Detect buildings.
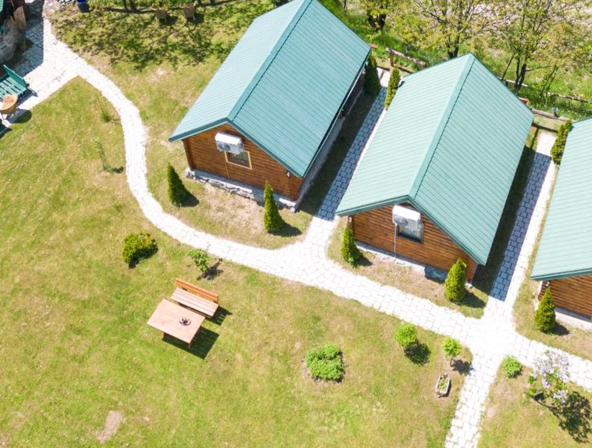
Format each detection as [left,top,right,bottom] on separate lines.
[167,0,373,218]
[333,52,535,290]
[529,117,592,338]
